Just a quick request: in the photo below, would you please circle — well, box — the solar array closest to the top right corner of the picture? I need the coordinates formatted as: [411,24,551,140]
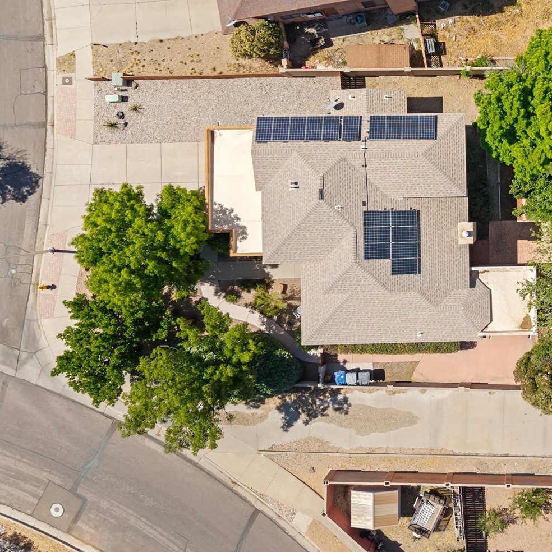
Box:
[369,116,435,139]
